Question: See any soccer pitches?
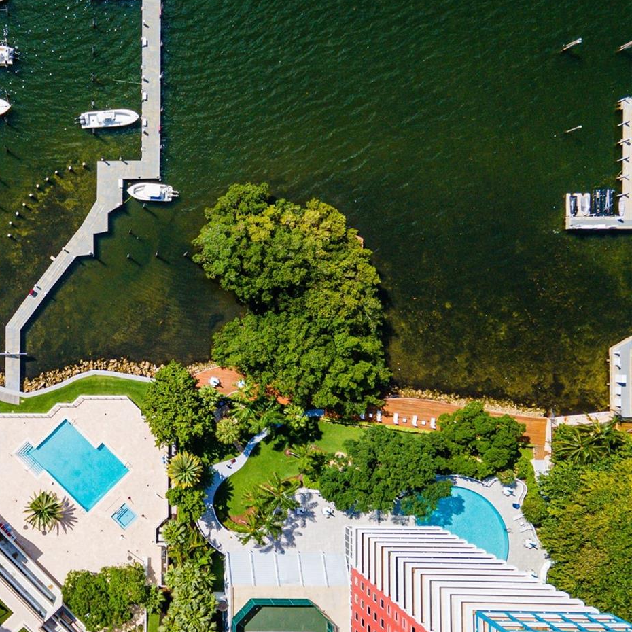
No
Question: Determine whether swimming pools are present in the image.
Yes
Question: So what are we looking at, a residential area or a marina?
marina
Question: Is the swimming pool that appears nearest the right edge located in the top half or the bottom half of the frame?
bottom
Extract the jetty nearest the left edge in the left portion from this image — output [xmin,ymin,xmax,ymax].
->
[5,0,160,396]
